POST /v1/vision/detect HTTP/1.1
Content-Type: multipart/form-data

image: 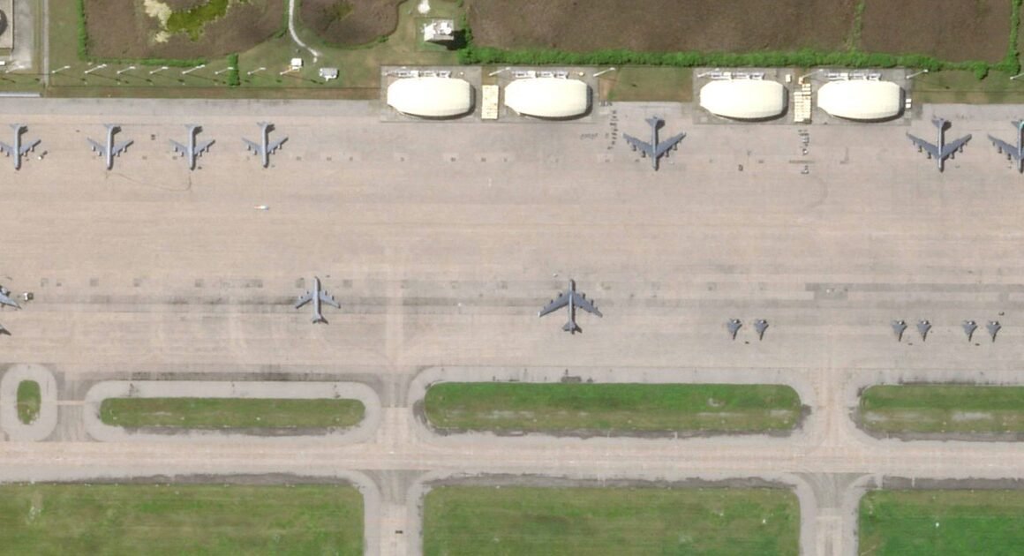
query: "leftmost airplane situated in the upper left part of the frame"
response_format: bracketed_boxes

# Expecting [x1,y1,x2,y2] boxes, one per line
[0,122,40,170]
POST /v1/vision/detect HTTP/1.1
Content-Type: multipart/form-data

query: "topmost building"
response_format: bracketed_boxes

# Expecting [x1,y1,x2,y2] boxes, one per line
[424,22,455,42]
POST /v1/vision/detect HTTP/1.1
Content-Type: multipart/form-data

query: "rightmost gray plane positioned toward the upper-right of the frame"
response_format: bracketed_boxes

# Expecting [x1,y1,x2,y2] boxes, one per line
[990,118,1024,173]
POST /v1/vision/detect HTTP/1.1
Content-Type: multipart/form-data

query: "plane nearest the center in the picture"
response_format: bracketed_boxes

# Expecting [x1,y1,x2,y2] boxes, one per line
[541,279,604,333]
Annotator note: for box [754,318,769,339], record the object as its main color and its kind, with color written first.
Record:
gray airplane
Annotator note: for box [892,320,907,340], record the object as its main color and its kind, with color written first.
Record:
gray airplane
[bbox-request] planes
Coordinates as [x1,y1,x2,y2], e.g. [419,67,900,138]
[243,120,288,168]
[170,122,215,170]
[623,114,686,170]
[917,320,932,340]
[909,116,972,172]
[0,122,40,170]
[990,118,1024,173]
[892,320,907,340]
[87,122,132,170]
[541,279,604,333]
[727,318,742,339]
[987,320,1001,341]
[754,318,769,339]
[962,320,977,341]
[295,277,340,323]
